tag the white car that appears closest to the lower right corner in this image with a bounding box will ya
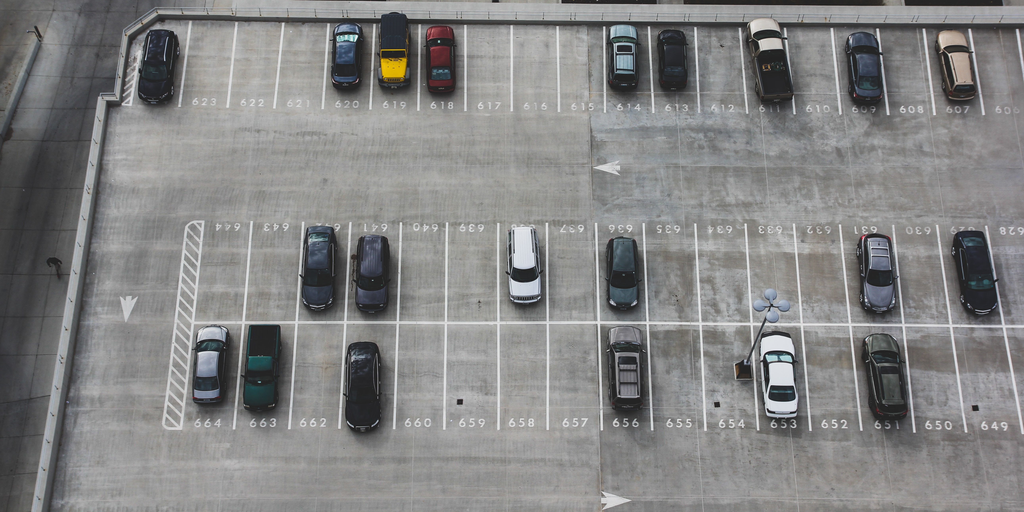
[759,330,799,419]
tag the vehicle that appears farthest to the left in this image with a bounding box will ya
[134,29,179,105]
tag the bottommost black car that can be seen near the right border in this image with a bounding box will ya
[952,230,1001,317]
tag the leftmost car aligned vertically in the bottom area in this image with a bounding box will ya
[191,325,231,404]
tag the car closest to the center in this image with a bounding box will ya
[504,226,545,305]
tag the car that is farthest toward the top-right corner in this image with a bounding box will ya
[934,30,977,100]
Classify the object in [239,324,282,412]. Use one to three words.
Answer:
truck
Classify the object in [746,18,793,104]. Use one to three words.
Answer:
truck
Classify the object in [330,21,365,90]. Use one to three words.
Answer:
car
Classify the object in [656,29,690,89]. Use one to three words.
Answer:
car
